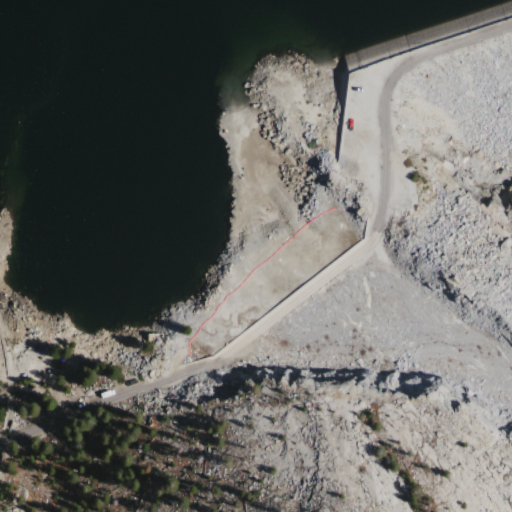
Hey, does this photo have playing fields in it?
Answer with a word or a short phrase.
No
